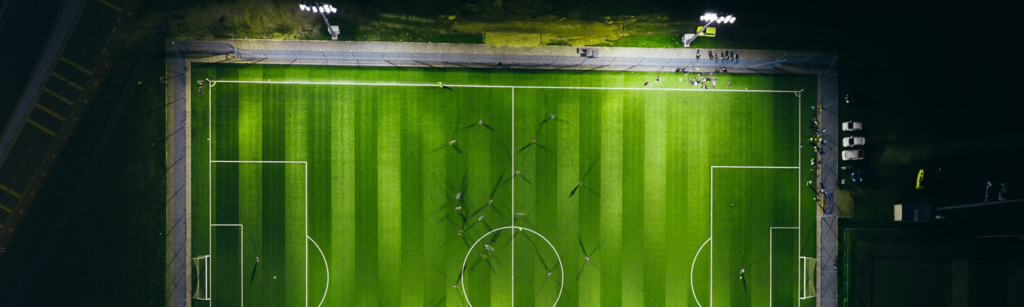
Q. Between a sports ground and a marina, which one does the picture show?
sports ground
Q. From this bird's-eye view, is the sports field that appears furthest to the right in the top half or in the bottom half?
bottom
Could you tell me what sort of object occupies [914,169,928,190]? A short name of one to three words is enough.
car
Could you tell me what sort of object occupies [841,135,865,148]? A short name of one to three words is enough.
vehicle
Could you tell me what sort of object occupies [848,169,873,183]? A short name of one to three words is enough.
car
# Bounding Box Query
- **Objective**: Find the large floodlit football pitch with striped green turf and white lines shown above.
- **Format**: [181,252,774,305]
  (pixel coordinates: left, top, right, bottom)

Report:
[190,61,817,307]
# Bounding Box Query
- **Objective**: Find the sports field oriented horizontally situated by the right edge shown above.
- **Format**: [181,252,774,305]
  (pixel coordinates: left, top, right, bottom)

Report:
[845,229,1024,307]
